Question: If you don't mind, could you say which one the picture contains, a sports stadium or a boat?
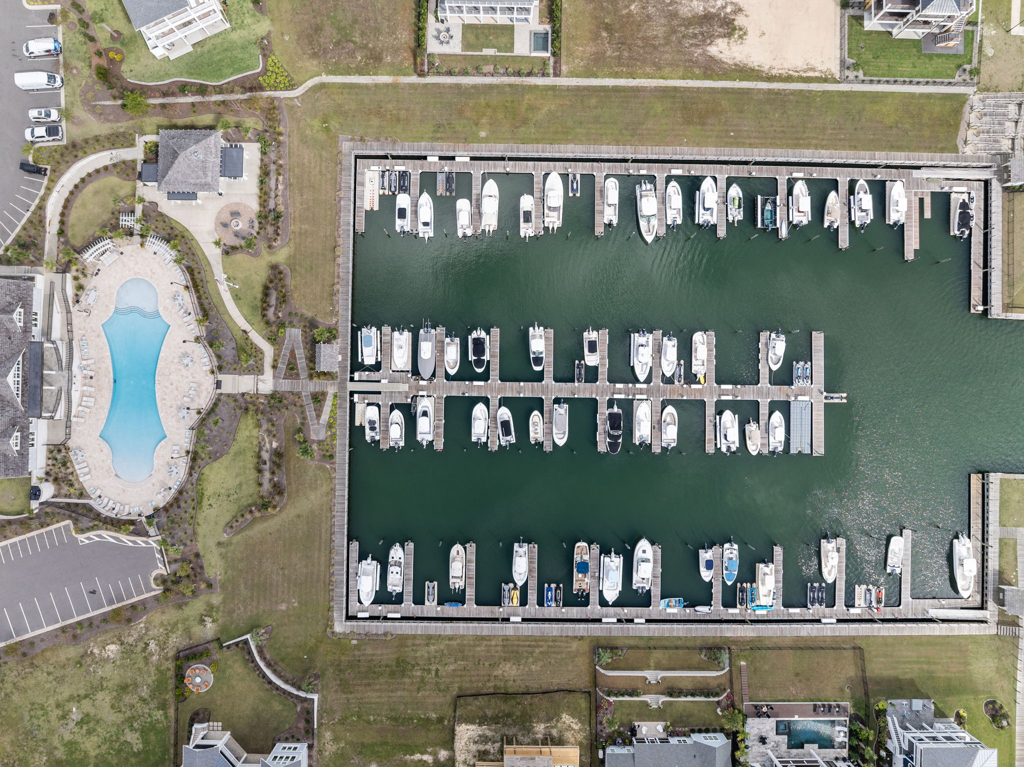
boat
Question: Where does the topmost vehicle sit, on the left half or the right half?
left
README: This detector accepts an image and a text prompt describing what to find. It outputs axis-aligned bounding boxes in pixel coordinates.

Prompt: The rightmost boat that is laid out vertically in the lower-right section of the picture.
[950,531,977,598]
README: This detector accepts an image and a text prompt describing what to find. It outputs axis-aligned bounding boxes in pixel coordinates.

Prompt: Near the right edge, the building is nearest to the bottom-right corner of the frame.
[884,718,998,767]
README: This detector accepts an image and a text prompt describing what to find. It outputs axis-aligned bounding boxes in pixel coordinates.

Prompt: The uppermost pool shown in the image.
[531,28,551,53]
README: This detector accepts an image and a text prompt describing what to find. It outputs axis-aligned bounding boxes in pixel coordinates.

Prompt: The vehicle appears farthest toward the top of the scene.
[25,37,63,58]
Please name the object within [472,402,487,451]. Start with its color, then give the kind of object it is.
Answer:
white boat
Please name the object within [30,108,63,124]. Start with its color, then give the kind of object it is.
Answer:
white car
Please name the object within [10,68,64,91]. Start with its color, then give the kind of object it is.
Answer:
white vehicle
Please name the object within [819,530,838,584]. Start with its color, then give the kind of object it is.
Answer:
white boat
